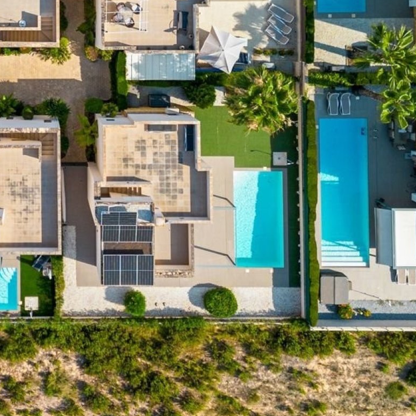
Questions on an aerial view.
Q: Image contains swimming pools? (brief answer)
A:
Yes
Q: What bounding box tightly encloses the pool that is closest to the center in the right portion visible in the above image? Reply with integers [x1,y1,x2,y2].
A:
[233,170,285,269]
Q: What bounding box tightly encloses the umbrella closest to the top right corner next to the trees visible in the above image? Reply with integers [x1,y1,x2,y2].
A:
[196,26,247,74]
